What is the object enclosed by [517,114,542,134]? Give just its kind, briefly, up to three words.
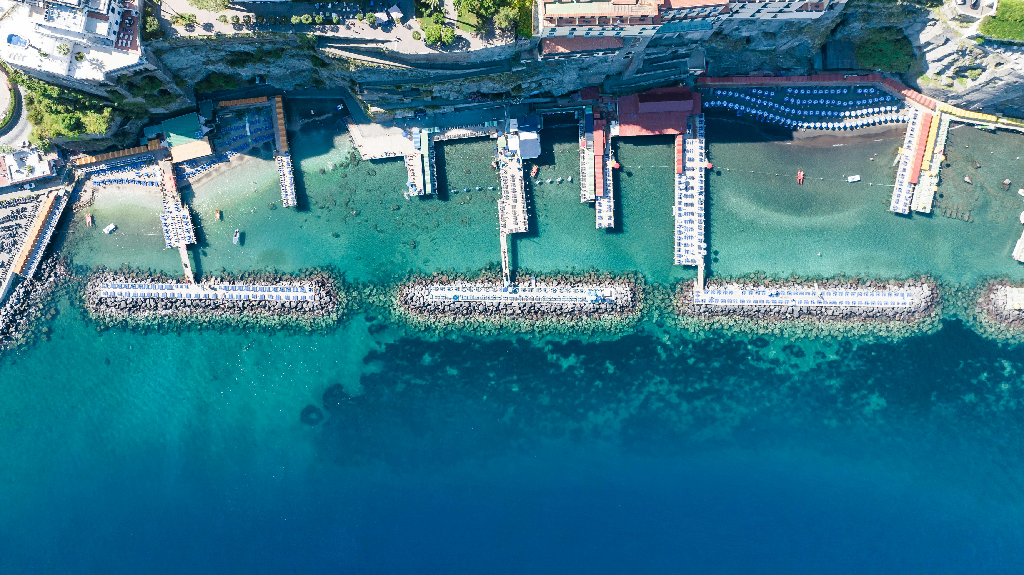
building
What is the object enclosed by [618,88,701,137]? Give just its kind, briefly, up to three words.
house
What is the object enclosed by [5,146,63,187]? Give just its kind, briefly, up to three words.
house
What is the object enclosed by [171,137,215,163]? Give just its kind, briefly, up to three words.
building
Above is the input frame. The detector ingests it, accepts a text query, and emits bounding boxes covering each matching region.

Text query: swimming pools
[6,33,33,50]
